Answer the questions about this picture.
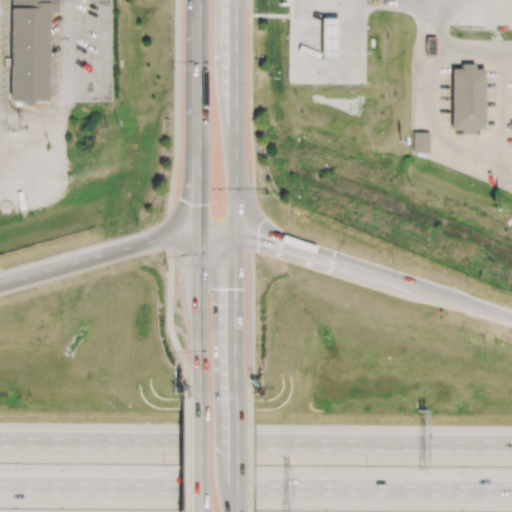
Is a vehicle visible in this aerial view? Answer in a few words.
Yes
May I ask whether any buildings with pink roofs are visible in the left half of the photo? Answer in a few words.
No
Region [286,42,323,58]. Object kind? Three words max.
vehicle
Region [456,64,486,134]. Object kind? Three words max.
building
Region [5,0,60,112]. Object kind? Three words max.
building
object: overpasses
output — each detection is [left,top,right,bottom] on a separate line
[182,386,258,512]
